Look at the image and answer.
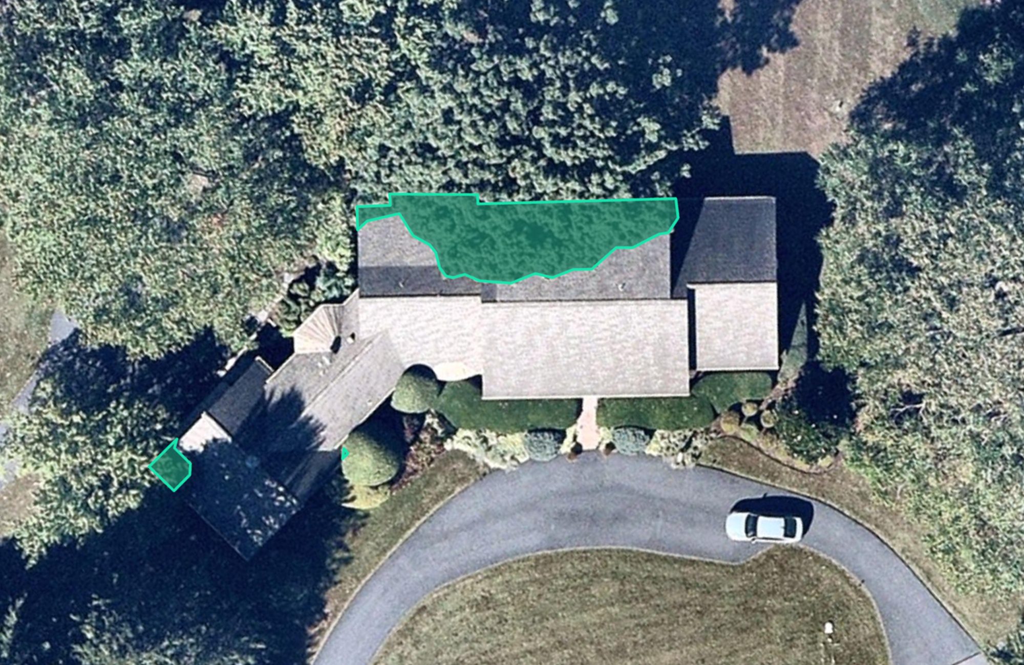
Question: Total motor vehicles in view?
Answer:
1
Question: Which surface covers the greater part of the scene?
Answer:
trees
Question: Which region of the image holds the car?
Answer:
bottom right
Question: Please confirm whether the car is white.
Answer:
Yes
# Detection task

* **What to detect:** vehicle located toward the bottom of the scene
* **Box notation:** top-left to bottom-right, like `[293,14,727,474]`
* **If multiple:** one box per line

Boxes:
[725,510,803,544]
